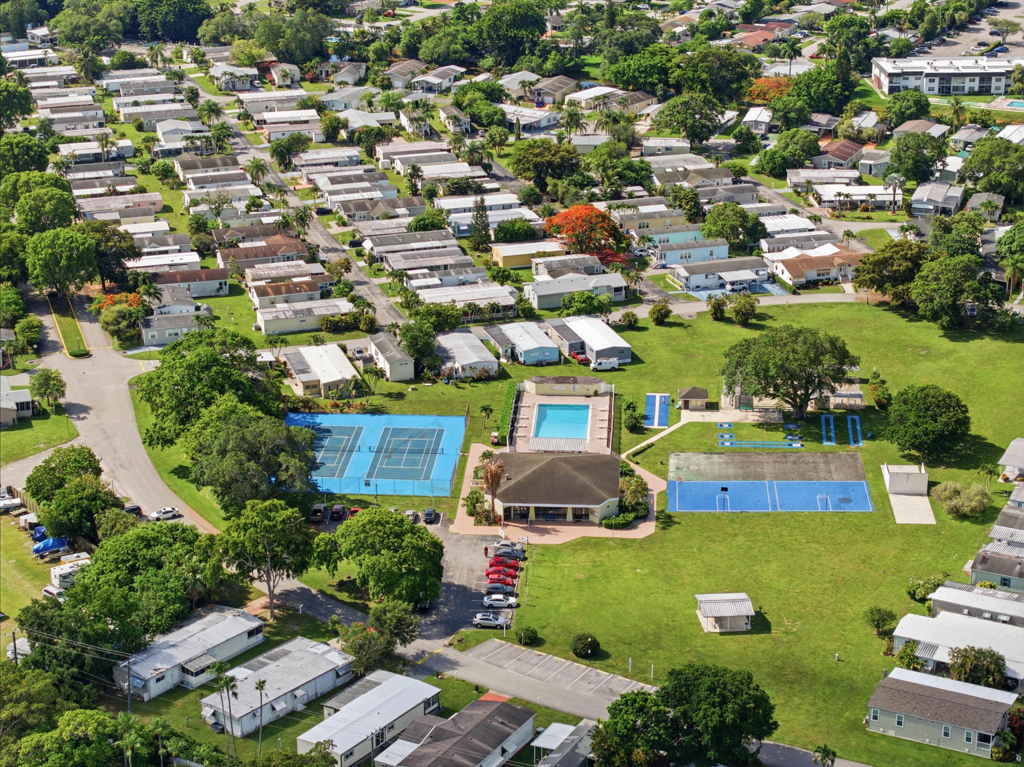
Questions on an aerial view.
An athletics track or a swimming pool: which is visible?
swimming pool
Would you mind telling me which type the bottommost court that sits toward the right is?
basketball court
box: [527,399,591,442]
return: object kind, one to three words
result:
swimming pool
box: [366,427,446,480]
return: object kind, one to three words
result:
tennis court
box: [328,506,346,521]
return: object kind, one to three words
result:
car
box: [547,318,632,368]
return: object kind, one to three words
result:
house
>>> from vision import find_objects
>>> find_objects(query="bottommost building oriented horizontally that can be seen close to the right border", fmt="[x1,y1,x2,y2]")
[868,673,1014,758]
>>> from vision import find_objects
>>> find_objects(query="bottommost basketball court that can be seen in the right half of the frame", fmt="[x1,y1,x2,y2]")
[667,452,875,511]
